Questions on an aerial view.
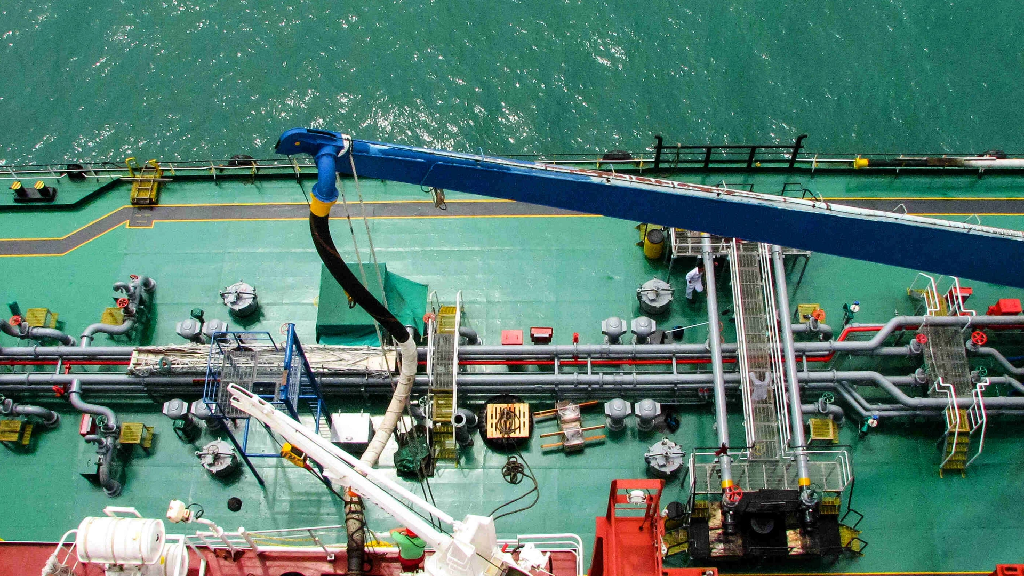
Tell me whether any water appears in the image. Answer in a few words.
Yes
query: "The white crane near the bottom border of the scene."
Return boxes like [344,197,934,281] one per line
[224,380,535,576]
